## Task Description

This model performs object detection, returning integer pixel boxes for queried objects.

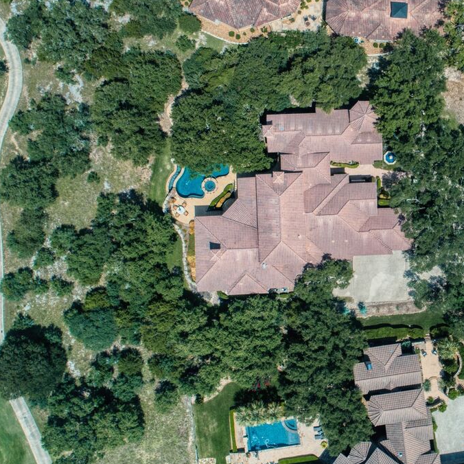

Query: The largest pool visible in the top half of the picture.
[176,162,230,198]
